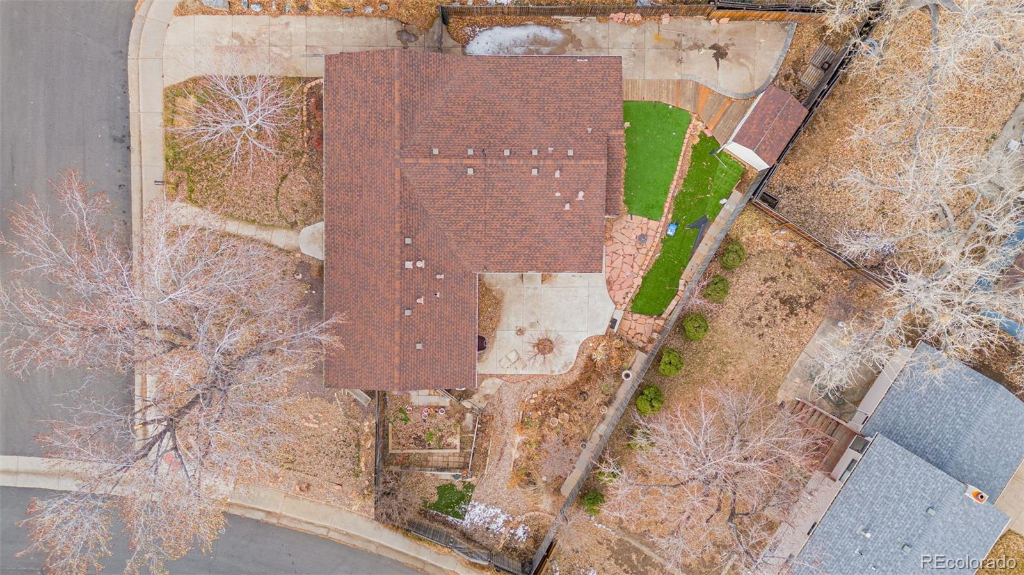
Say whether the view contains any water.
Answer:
No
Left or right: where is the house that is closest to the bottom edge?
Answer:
right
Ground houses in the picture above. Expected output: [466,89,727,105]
[771,340,1024,575]
[323,48,625,391]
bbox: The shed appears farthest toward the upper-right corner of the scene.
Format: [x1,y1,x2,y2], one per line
[721,85,808,173]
